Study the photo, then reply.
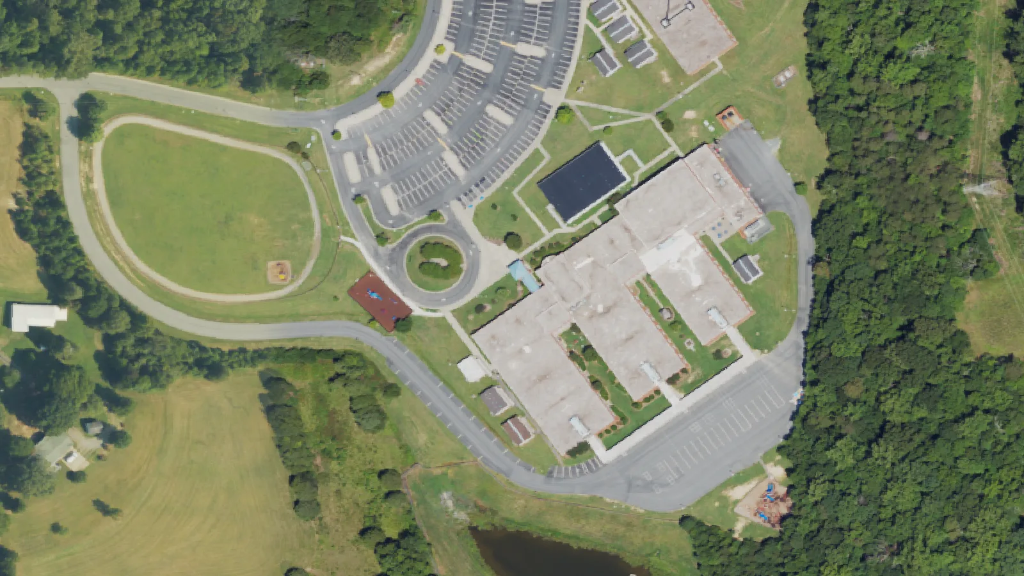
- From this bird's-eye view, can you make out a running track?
Yes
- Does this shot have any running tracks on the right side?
No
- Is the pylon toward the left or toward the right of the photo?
right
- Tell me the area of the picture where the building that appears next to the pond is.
center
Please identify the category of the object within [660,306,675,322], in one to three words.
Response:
gazebo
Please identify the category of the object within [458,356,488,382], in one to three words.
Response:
shed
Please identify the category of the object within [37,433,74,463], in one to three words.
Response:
house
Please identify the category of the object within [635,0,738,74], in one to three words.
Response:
building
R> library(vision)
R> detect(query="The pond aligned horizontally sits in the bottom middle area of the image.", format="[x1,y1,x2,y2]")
[467,524,656,576]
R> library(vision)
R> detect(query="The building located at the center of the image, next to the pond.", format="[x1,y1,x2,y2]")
[472,145,761,456]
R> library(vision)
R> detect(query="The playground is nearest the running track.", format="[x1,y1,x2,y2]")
[348,270,412,331]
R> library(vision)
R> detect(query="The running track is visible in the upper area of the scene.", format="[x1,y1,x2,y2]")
[94,116,321,302]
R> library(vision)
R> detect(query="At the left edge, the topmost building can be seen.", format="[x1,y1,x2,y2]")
[13,304,69,332]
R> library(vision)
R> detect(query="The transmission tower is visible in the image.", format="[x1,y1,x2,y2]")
[967,176,1003,199]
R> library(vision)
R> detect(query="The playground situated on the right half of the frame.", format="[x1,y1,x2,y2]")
[736,478,794,528]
